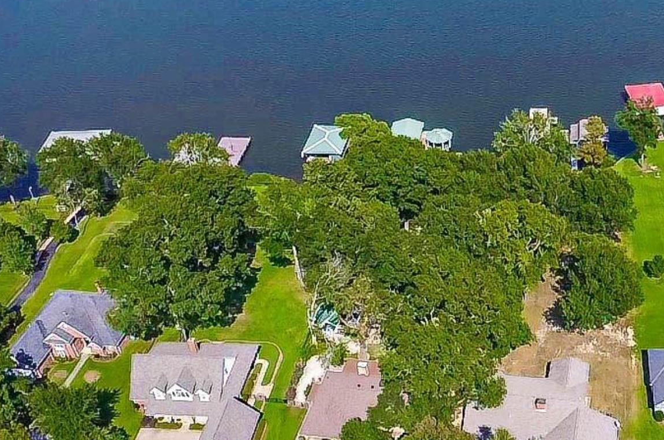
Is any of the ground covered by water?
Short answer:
Yes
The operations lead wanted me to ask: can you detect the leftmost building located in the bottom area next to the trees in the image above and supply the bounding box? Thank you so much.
[5,284,144,377]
